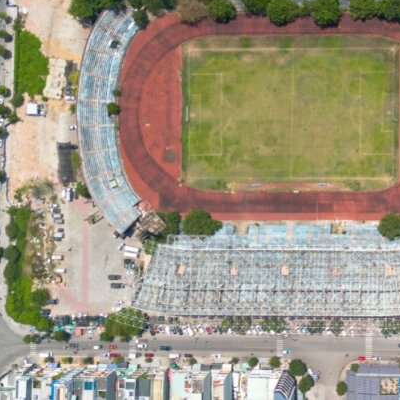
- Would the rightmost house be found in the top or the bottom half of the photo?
bottom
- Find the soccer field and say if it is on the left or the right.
right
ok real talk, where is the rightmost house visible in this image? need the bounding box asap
[345,361,400,400]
